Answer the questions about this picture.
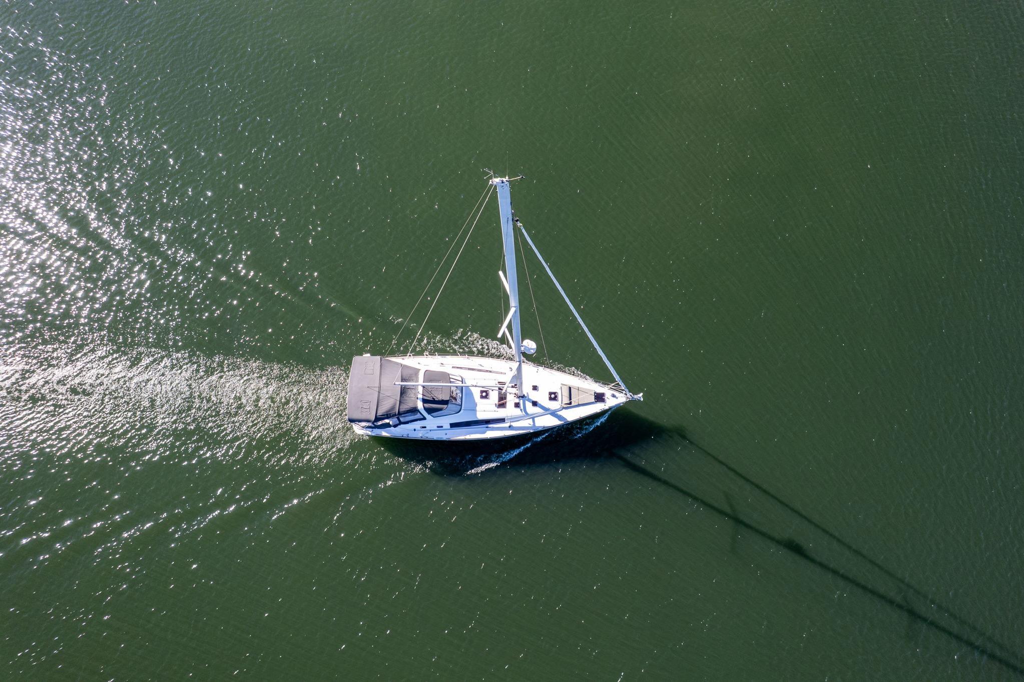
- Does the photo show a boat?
Yes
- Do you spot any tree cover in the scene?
No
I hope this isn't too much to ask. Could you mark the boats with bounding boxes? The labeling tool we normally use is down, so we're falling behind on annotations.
[347,168,646,442]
